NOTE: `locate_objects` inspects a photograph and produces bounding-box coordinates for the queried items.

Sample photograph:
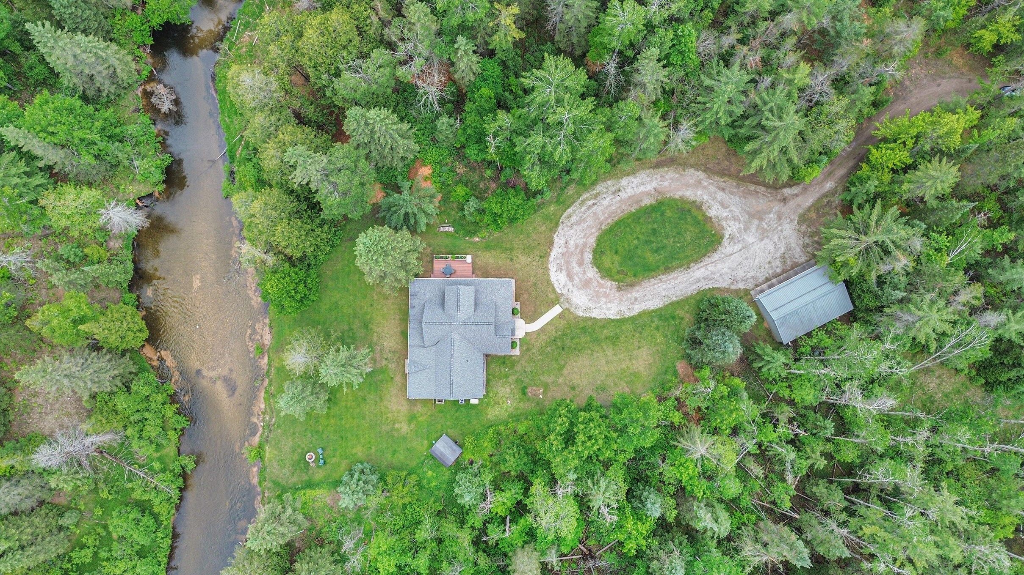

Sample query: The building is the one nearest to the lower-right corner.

[748,260,854,345]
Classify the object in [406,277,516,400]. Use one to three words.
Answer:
house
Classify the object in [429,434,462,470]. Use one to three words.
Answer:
shed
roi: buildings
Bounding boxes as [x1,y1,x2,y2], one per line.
[429,434,462,470]
[406,277,516,400]
[748,260,854,345]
